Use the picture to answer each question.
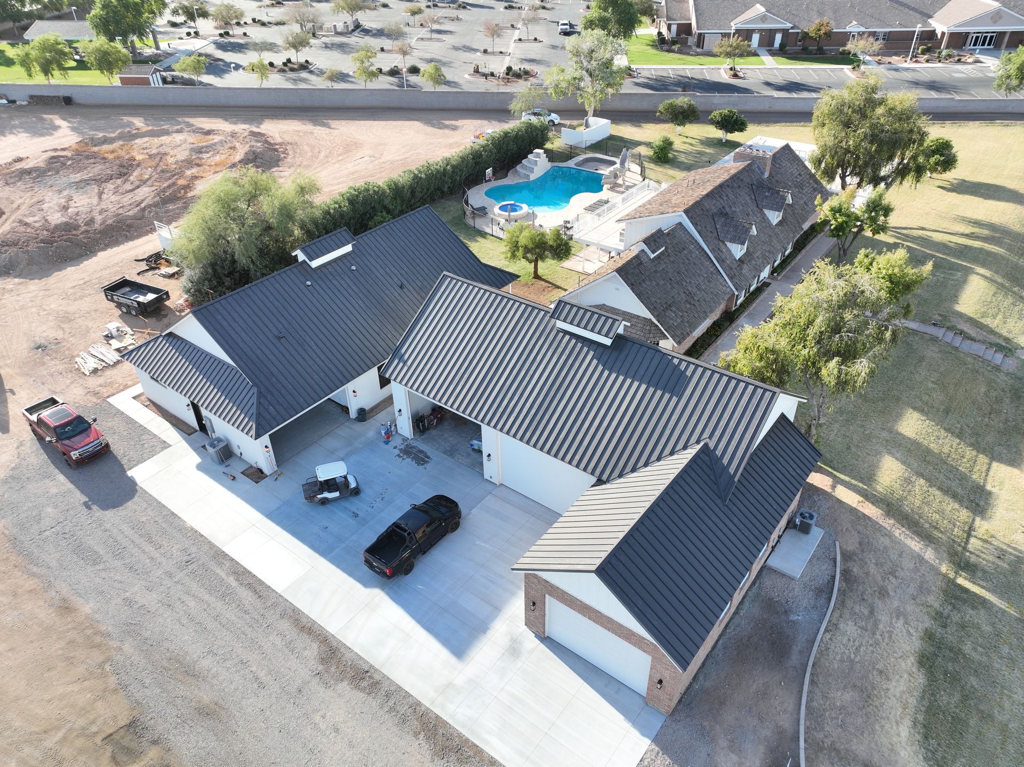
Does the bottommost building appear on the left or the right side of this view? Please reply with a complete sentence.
The bottommost building is on the right side of the image.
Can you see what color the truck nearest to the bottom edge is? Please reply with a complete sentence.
The truck nearest to the bottom edge looks black in the image.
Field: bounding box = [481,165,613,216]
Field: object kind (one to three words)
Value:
swimming pool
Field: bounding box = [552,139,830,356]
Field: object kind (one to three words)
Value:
house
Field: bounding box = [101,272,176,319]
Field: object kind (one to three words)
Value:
trailer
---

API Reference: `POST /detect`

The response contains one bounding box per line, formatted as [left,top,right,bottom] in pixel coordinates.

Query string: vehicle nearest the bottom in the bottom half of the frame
[362,488,470,582]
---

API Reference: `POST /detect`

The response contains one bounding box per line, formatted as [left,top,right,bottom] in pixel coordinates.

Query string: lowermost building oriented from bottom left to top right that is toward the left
[124,207,520,475]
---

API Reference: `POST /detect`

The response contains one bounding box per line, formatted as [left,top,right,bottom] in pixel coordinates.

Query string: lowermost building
[511,413,824,714]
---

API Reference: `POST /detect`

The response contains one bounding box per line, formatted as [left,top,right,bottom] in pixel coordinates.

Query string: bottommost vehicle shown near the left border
[22,396,113,470]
